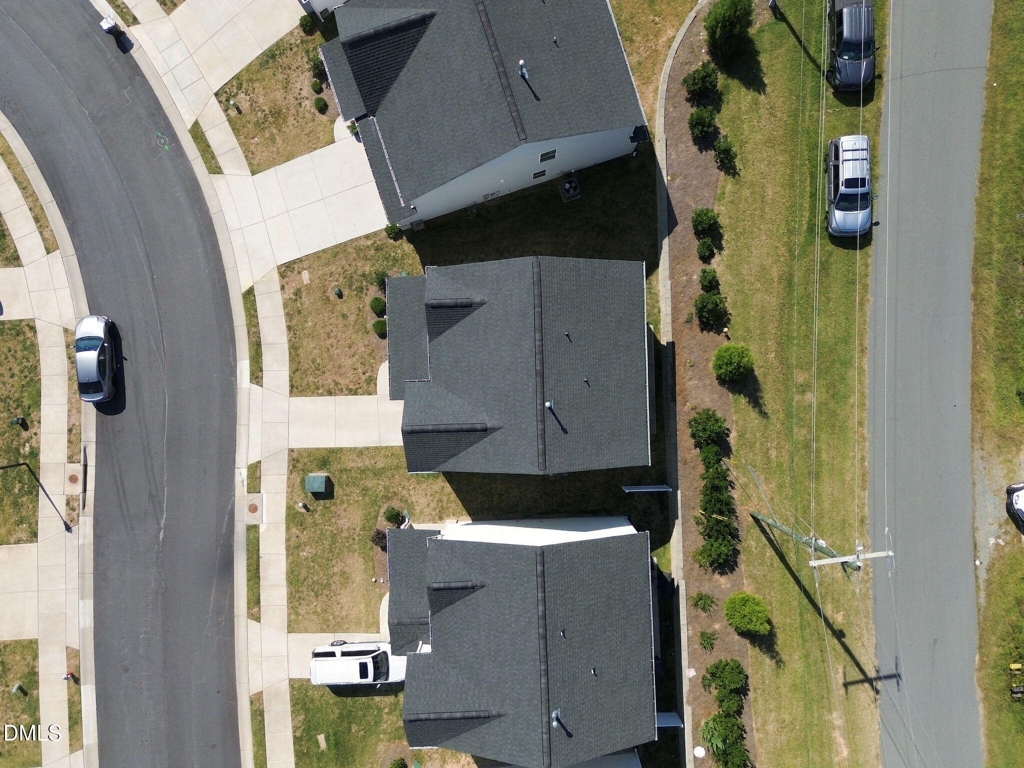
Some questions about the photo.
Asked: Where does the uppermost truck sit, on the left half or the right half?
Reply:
right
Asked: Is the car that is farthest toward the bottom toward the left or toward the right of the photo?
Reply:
left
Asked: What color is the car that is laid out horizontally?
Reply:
white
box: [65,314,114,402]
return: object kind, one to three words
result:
car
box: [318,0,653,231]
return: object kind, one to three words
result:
house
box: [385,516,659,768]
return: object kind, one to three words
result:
house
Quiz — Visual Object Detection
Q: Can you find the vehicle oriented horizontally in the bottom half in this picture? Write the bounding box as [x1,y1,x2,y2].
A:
[308,639,407,689]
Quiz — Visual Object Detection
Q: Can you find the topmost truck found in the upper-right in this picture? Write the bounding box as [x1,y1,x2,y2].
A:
[826,0,882,94]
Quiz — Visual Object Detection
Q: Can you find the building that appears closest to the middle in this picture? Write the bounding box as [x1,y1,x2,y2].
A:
[384,256,654,476]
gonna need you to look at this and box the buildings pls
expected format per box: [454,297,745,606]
[385,516,659,768]
[384,256,654,476]
[318,0,653,231]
